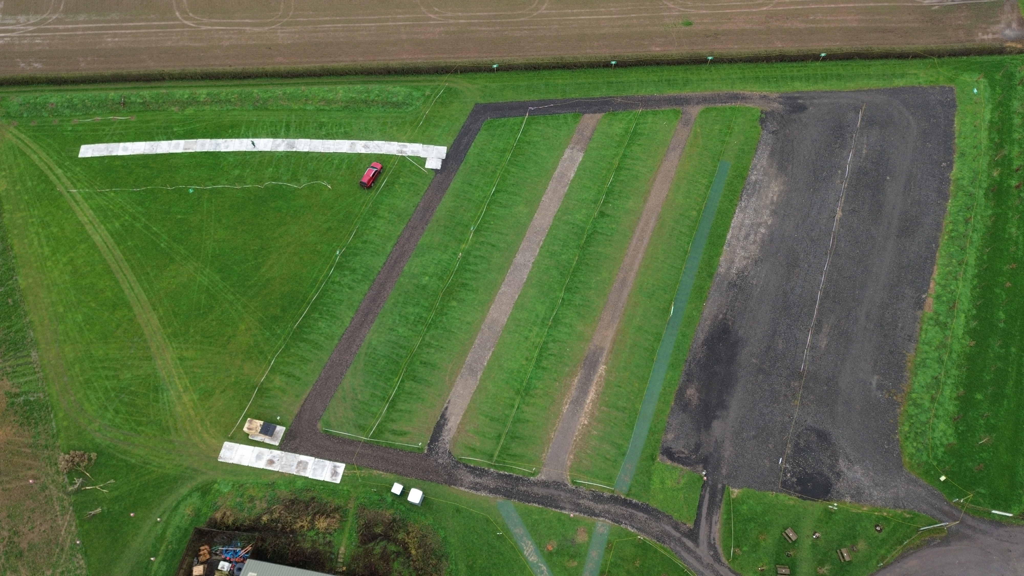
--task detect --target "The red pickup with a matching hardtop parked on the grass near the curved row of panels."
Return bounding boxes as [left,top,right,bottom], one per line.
[358,161,383,190]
